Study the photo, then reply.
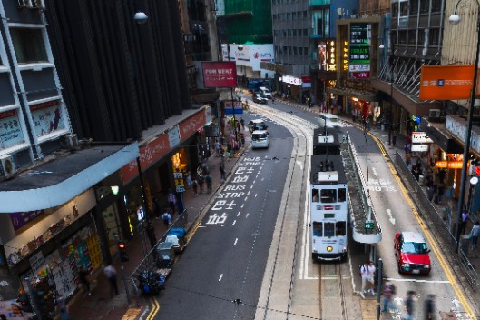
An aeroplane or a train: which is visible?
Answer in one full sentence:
It is a train that can be seen here.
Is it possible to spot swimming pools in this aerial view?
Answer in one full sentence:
No, I can see no swimming pool in this picture.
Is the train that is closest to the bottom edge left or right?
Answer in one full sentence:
The train that is closest to the bottom edge is on the right side of the image.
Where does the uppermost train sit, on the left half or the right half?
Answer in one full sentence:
The uppermost train is on the right side of the image.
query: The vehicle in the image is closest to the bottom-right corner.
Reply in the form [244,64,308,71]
[388,226,431,269]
